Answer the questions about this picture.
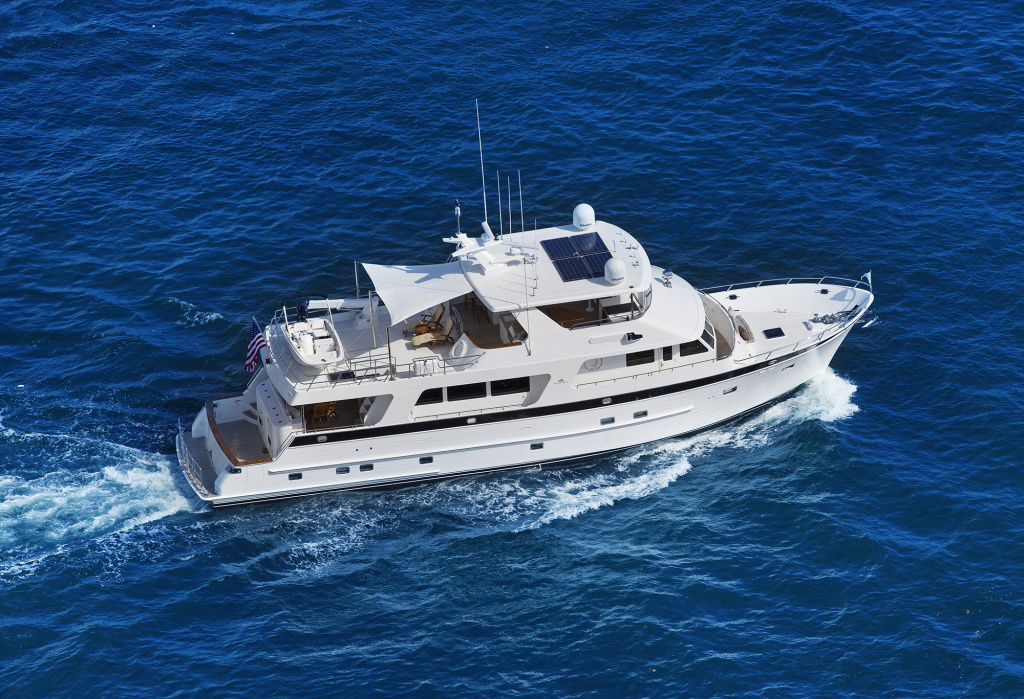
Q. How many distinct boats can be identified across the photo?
2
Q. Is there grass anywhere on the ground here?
No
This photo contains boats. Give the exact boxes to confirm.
[281,289,343,382]
[177,99,882,510]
